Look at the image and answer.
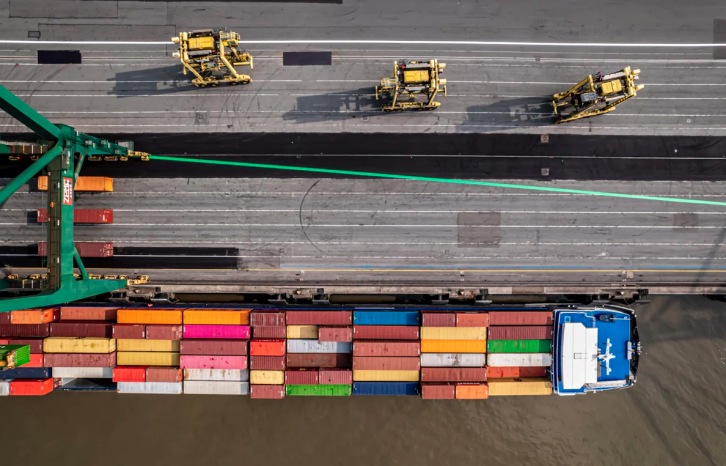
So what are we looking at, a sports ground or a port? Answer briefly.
port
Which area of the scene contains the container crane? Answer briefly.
left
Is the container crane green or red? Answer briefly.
green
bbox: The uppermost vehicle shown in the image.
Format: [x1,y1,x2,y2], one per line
[177,32,257,84]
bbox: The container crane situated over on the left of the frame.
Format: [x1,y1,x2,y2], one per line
[0,84,149,313]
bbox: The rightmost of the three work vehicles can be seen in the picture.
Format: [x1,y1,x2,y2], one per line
[549,68,642,126]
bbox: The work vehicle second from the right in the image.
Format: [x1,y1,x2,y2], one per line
[376,61,447,109]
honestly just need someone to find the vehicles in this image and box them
[376,61,447,109]
[177,32,257,84]
[549,68,642,126]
